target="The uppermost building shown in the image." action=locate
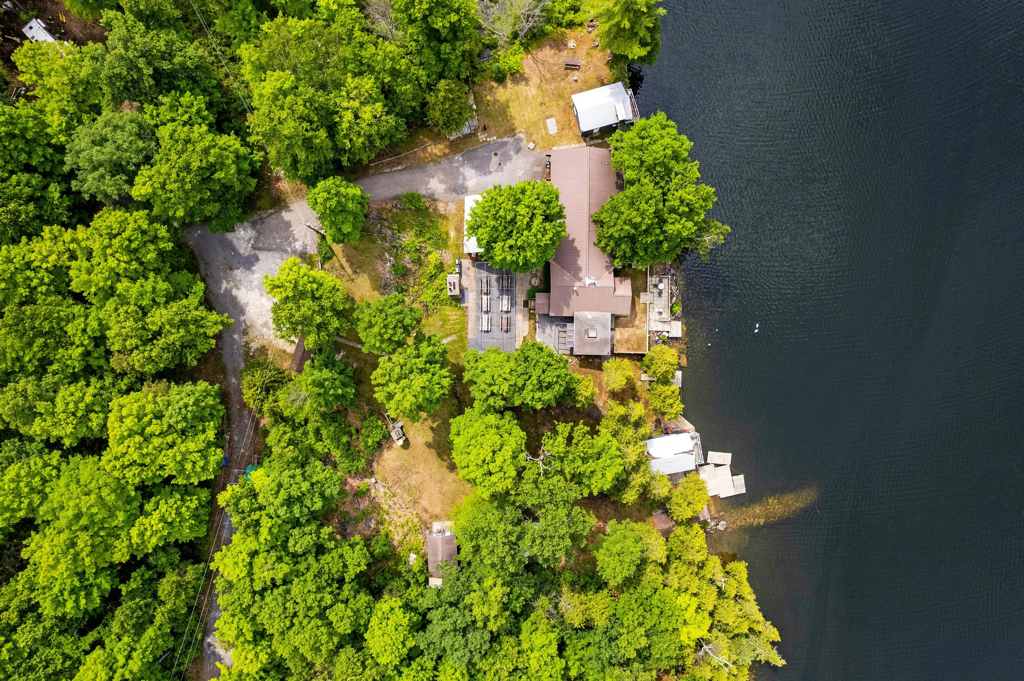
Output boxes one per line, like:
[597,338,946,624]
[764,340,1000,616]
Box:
[571,81,632,135]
